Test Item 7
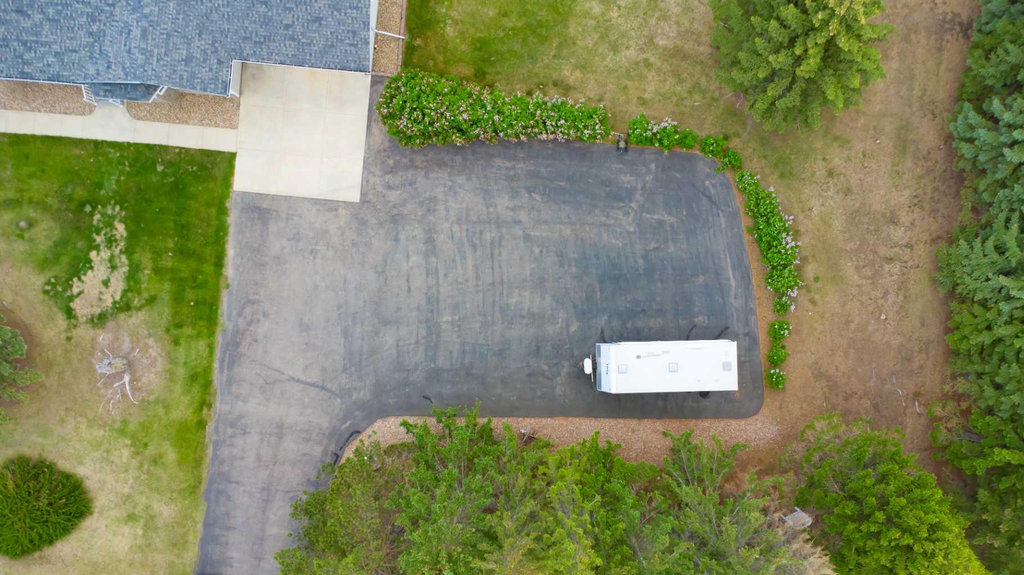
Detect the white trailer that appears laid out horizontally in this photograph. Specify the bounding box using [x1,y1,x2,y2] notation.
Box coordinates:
[574,337,738,394]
